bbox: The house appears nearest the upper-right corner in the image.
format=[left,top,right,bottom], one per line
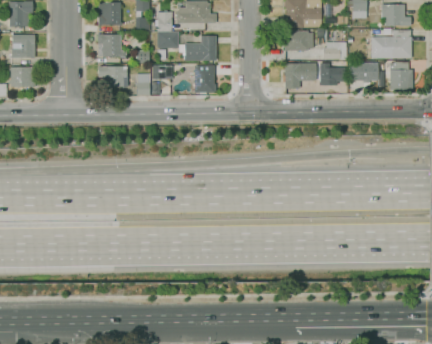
[384,4,412,26]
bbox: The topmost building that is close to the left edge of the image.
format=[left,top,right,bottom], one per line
[10,0,34,26]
